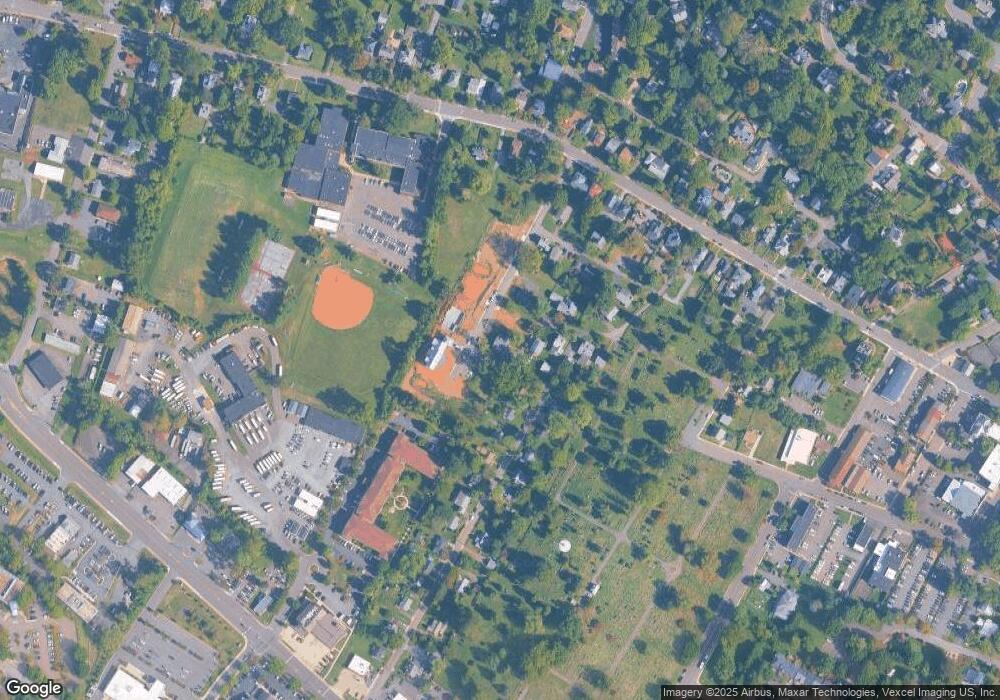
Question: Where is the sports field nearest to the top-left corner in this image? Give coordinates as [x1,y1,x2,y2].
[136,142,316,345]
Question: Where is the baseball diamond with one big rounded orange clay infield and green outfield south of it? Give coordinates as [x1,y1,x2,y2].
[238,236,430,416]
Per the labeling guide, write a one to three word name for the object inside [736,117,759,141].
house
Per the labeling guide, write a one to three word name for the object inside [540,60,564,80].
house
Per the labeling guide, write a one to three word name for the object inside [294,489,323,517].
building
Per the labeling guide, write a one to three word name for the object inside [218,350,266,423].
building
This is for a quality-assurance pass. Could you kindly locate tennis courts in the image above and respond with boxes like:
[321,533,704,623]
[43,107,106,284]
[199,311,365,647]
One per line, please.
[240,240,297,309]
